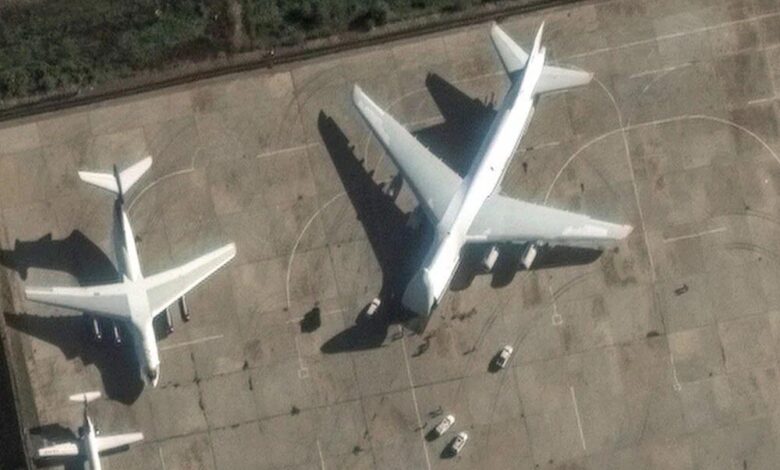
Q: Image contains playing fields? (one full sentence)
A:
No, there is no playing field in the image.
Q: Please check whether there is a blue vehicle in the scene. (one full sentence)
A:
No, there isn't any blue vehicle down there.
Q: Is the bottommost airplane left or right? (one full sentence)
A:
The bottommost airplane appears in the left half of the scene.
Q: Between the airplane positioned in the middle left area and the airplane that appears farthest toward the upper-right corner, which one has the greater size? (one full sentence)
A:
Of the two, the airplane that appears farthest toward the upper-right corner is bigger, while the airplane positioned in the middle left area is smaller.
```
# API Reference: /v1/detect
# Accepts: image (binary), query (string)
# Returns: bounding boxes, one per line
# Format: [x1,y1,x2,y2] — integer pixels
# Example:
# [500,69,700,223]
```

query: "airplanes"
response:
[38,392,143,470]
[23,156,235,388]
[353,19,634,336]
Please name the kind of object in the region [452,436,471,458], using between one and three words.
vehicle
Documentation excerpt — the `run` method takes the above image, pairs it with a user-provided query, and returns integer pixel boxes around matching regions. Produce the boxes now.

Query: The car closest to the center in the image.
[367,300,380,319]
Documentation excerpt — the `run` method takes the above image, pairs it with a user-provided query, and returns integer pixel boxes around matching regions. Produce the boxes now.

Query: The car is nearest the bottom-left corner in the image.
[309,309,321,329]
